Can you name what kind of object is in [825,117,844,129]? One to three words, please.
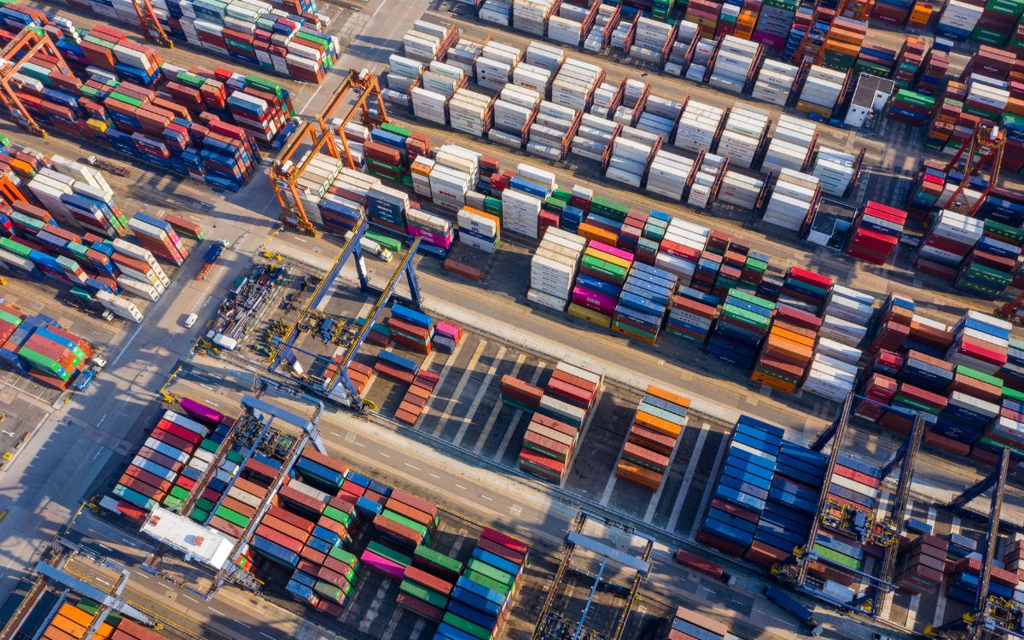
vehicle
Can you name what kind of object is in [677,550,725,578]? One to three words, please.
shipping container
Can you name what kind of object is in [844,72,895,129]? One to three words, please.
building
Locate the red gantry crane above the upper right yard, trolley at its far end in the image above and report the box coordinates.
[952,106,1018,217]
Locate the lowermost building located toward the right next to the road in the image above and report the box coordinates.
[807,198,856,246]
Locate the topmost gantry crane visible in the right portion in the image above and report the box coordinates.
[785,0,839,70]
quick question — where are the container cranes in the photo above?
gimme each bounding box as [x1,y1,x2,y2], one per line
[130,374,335,604]
[768,388,925,623]
[0,22,73,134]
[523,508,661,640]
[264,214,425,414]
[308,65,386,169]
[920,443,1024,640]
[0,533,152,640]
[261,119,344,235]
[785,0,839,70]
[952,106,1018,217]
